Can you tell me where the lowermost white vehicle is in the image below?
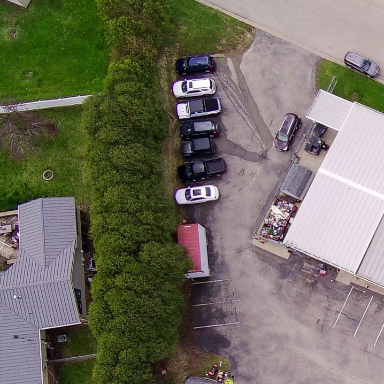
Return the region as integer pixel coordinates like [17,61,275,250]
[175,186,220,204]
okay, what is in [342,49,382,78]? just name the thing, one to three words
car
